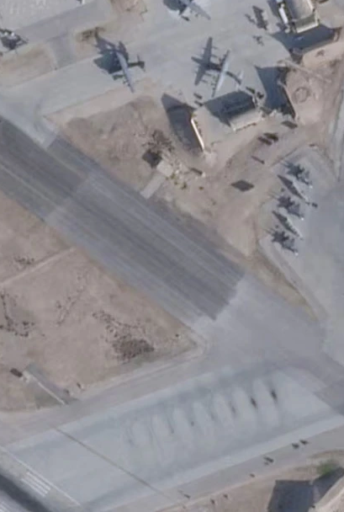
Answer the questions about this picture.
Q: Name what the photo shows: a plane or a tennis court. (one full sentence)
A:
The one in the frame is a plane.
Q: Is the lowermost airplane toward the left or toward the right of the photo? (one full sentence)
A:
You can find the lowermost airplane on the right side of the picture.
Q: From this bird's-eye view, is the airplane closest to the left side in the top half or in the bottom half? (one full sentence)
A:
The top half of the photo is where the airplane closest to the left side is.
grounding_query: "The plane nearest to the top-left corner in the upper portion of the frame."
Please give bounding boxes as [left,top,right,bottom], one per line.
[112,47,148,96]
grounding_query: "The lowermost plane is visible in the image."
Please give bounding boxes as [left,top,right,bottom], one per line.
[276,234,297,254]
